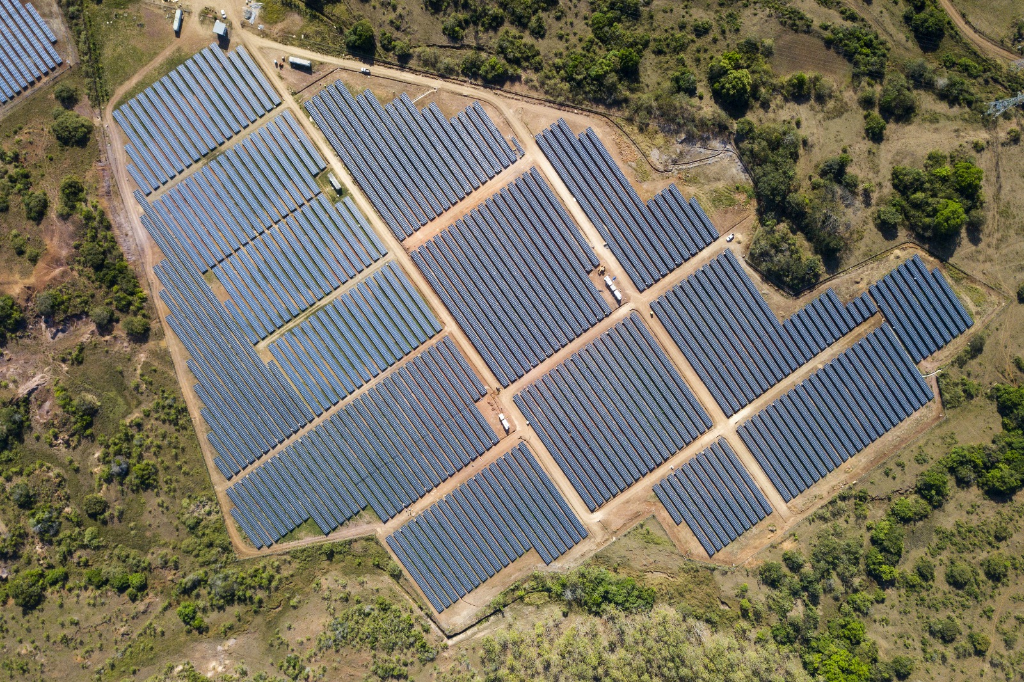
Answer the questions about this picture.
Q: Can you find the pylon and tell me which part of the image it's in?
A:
top right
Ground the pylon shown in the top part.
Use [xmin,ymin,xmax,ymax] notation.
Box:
[981,88,1024,119]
